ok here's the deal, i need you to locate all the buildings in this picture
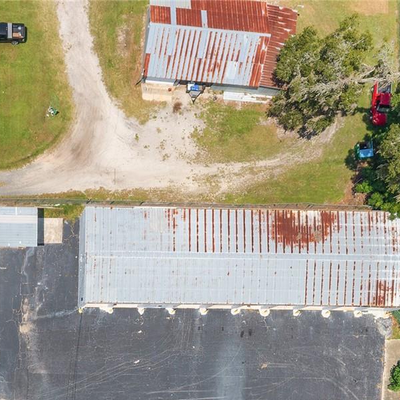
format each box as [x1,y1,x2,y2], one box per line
[0,207,38,251]
[139,0,299,100]
[78,206,400,314]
